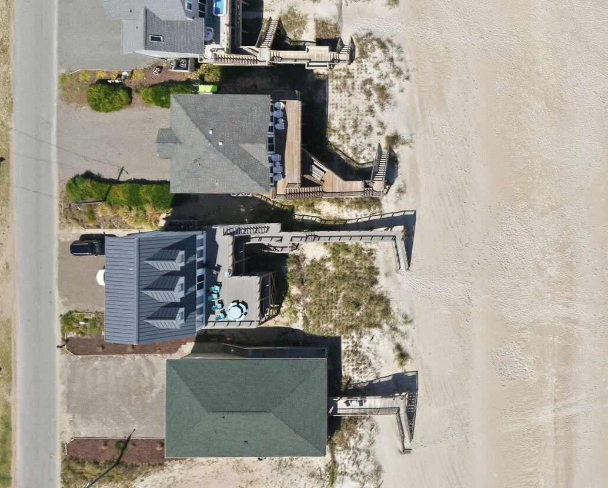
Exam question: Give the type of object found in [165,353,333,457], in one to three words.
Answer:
building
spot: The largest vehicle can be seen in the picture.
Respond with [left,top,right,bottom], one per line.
[72,239,105,256]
